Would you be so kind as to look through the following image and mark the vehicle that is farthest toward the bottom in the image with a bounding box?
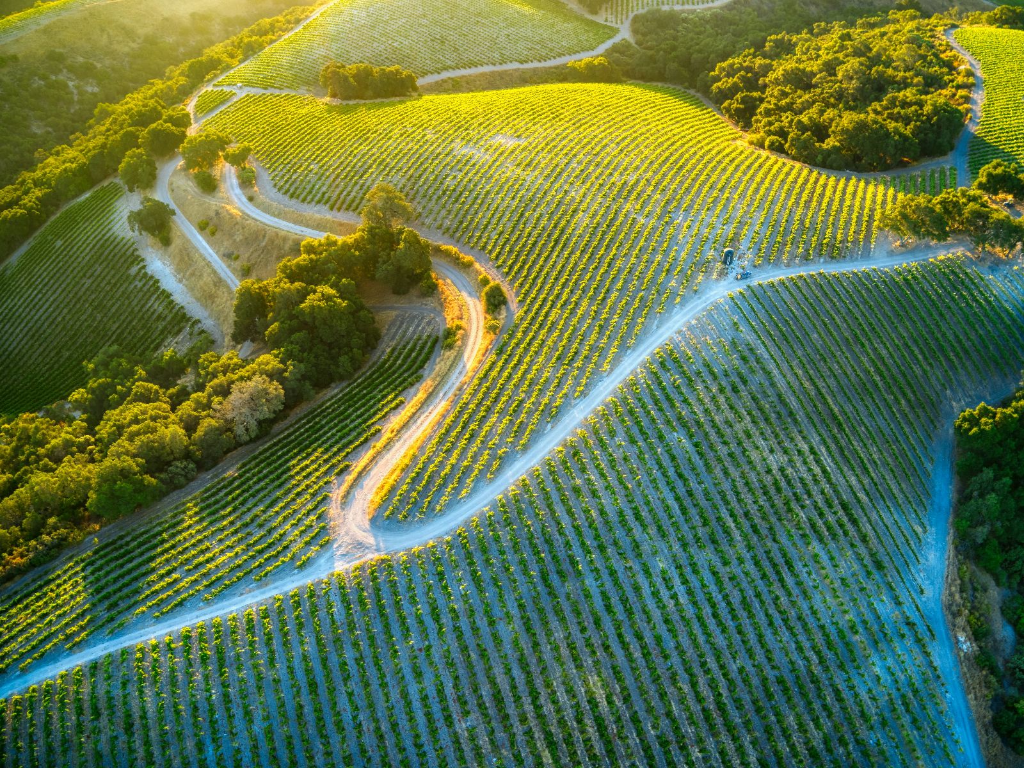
[737,268,752,280]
